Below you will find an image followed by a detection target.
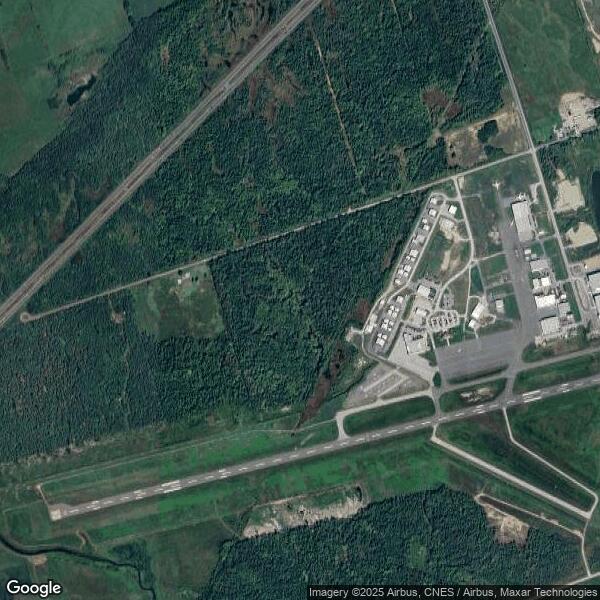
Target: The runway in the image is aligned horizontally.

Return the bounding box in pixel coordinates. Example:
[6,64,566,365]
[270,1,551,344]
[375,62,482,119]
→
[58,374,600,520]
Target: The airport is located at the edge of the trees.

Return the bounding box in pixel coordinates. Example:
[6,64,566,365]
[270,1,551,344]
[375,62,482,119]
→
[49,193,600,520]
